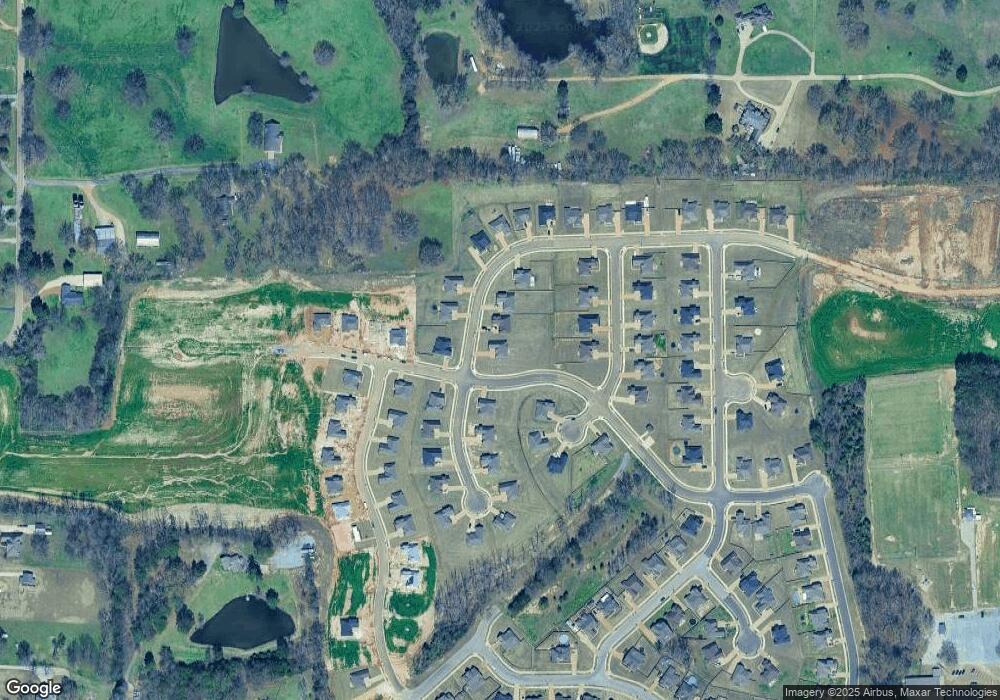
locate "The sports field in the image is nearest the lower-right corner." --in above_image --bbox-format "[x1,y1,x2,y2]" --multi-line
[871,460,956,556]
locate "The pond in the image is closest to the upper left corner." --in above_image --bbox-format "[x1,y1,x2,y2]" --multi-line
[215,7,312,103]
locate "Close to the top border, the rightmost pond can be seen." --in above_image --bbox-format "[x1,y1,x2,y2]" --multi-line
[494,0,609,64]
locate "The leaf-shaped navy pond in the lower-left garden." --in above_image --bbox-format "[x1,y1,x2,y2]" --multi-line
[190,595,294,648]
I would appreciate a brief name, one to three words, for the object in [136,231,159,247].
shed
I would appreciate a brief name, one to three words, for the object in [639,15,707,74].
baseball field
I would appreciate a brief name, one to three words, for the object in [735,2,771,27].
house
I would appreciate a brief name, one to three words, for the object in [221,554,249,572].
house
